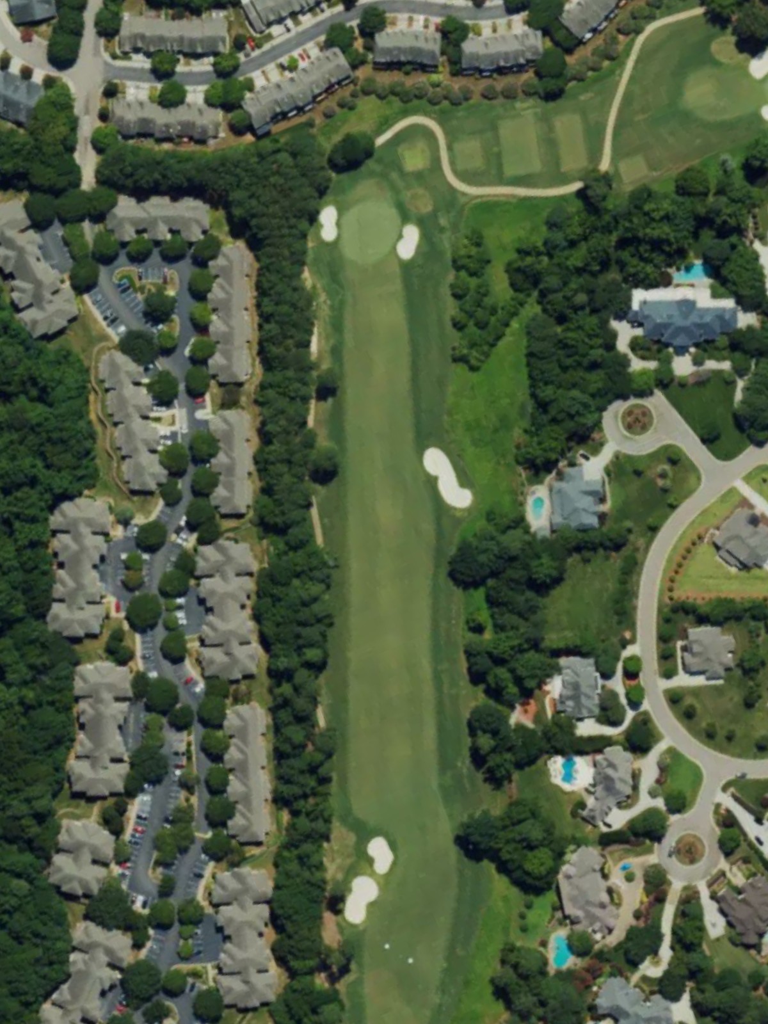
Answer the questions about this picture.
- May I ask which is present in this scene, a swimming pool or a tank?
swimming pool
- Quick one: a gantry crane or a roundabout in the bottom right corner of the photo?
roundabout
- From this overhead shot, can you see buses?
No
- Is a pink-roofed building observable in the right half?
No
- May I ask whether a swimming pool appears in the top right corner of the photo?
Yes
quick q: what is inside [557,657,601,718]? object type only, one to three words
house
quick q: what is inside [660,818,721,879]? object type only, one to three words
roundabout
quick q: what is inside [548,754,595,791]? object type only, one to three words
swimming pool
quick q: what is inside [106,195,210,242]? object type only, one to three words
building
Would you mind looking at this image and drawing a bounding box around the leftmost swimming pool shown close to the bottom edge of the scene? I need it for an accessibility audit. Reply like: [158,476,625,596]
[549,929,577,974]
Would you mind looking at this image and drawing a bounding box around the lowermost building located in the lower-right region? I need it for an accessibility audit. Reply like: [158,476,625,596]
[592,973,677,1024]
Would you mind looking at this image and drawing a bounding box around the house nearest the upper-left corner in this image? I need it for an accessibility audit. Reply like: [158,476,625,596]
[7,0,58,29]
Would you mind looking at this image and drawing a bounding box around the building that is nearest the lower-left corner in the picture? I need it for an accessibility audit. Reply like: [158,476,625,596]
[41,916,131,1024]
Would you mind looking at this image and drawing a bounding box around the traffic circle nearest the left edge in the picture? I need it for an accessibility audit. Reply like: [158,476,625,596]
[602,388,668,453]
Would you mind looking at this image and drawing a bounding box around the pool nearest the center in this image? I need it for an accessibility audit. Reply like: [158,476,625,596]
[526,484,551,530]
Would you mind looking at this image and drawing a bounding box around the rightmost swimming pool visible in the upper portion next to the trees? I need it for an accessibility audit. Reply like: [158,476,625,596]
[670,260,716,291]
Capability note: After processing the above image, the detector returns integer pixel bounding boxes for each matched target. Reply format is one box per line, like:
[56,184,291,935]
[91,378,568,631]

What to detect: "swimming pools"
[670,260,716,291]
[548,754,595,791]
[549,929,577,974]
[526,484,551,530]
[618,861,633,873]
